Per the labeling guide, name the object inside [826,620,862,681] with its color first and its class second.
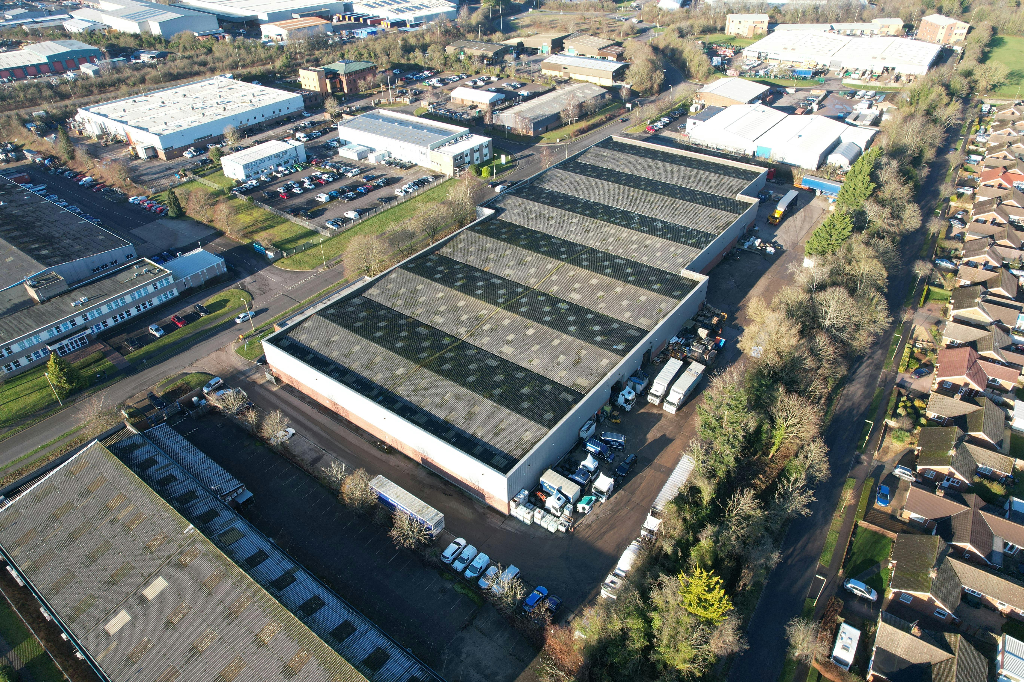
white camper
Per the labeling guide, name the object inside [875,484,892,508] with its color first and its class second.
blue car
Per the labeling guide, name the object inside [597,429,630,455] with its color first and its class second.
blue vehicle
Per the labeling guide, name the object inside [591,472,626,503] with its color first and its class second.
white truck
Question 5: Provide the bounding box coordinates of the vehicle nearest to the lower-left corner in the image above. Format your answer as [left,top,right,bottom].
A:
[145,393,167,410]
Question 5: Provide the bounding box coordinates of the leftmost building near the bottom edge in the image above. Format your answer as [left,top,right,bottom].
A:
[0,419,451,682]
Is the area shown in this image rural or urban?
urban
